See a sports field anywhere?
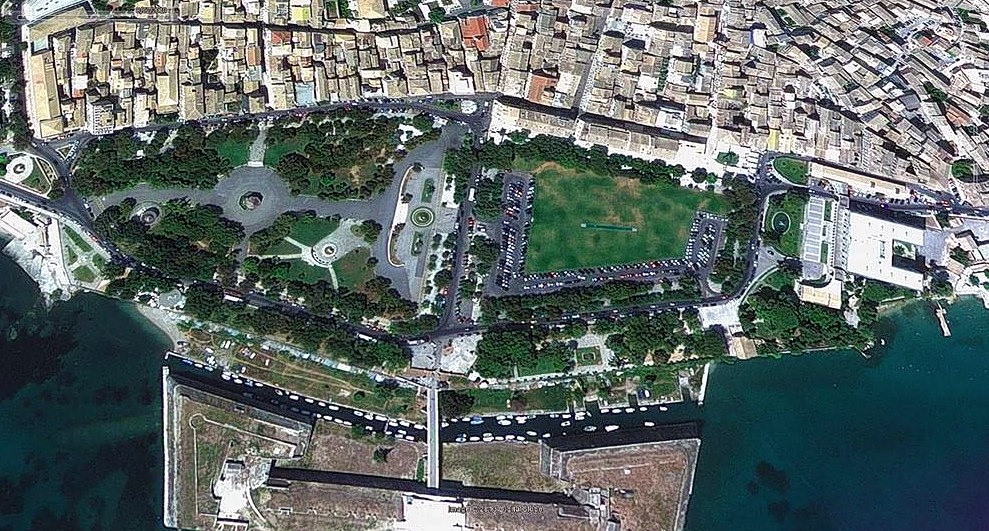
Yes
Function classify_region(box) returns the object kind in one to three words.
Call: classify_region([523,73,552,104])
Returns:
house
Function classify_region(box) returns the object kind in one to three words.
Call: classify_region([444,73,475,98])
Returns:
building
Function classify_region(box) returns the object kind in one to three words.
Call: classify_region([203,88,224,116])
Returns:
house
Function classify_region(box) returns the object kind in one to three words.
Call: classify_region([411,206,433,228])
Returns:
fountain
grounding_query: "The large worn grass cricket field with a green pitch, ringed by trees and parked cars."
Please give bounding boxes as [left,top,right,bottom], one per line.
[525,157,730,273]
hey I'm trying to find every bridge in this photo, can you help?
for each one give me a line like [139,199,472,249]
[425,375,440,489]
